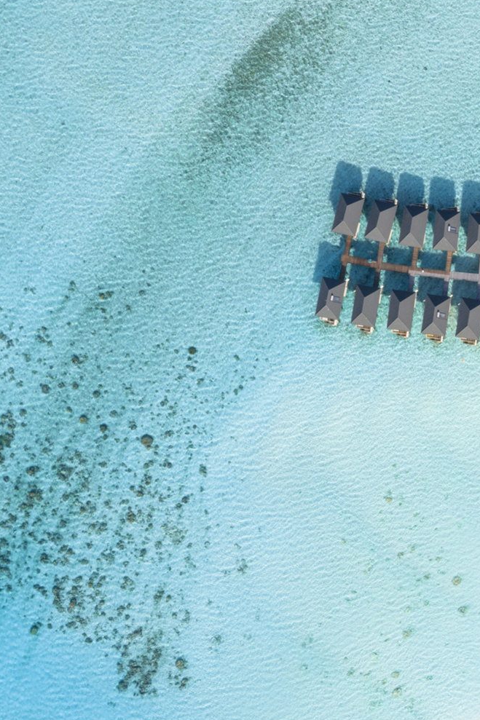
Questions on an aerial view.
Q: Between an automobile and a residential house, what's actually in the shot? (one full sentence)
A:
It is a residential house that can be seen here.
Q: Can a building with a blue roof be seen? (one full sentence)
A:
No, there isn't any building with a blue roof down there.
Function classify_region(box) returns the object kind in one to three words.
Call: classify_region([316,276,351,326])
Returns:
house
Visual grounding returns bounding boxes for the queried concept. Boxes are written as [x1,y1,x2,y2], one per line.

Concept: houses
[365,196,403,245]
[421,293,454,341]
[466,209,480,254]
[399,200,432,249]
[316,276,351,326]
[351,284,384,333]
[388,289,420,338]
[332,190,370,239]
[456,298,480,346]
[433,204,463,253]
